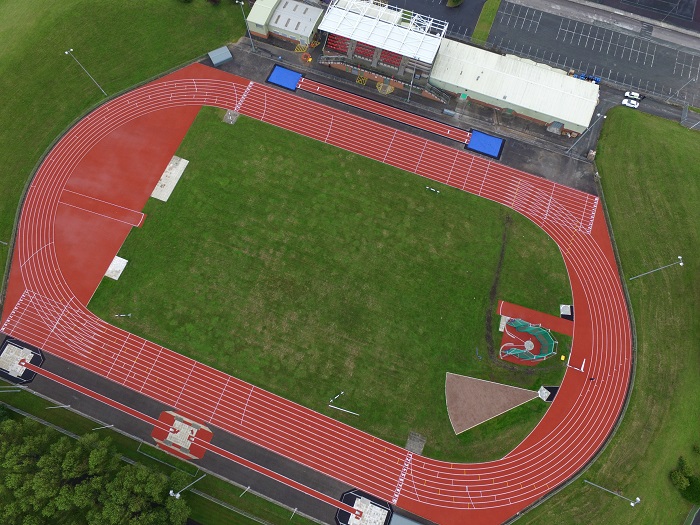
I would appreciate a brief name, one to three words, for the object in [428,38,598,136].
building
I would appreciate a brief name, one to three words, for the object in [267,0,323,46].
building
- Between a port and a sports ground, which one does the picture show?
sports ground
